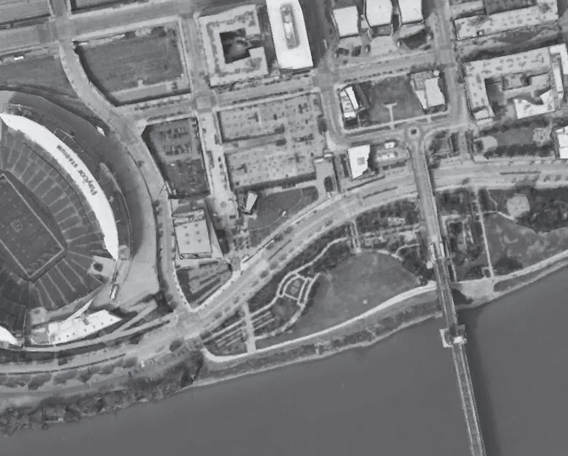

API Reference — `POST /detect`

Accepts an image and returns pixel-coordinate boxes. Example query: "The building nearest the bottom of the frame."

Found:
[49,309,122,344]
